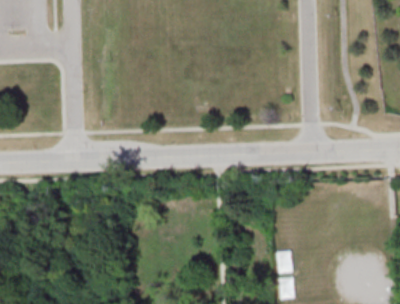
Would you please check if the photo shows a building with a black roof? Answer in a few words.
No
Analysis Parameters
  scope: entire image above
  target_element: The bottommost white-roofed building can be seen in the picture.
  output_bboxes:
[278,276,297,301]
